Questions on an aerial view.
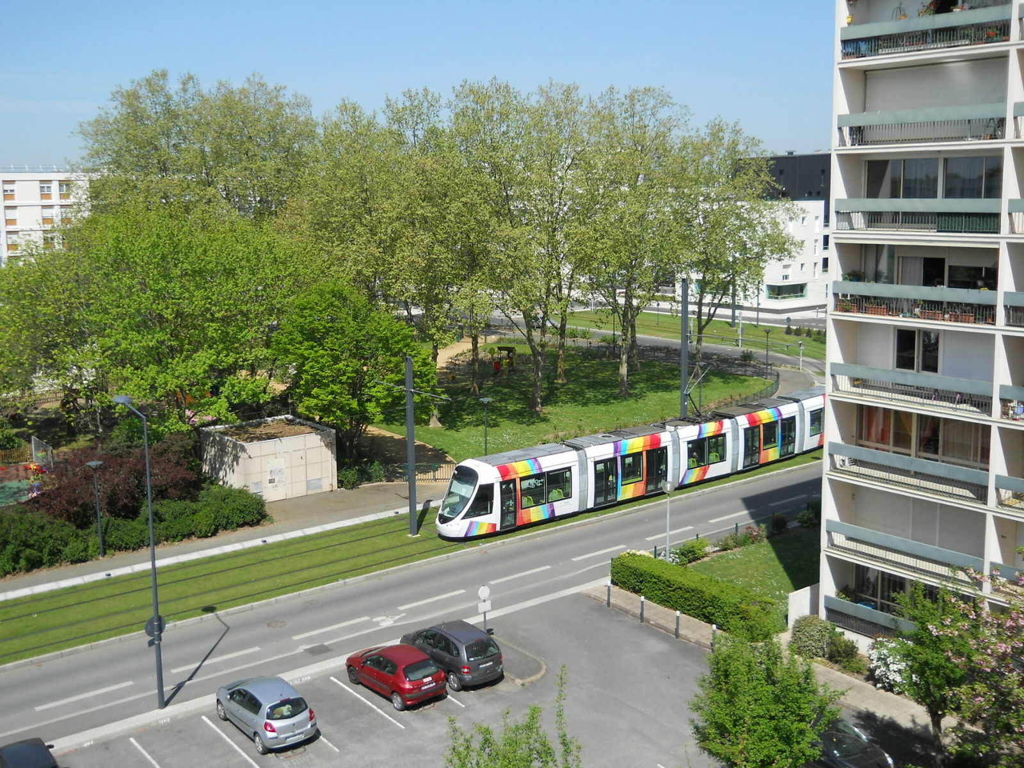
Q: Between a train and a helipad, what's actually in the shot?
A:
train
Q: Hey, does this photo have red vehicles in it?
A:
Yes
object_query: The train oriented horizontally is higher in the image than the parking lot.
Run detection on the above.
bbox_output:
[430,365,826,543]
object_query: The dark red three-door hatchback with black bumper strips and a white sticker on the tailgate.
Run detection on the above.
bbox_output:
[350,641,453,710]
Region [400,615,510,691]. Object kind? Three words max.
car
